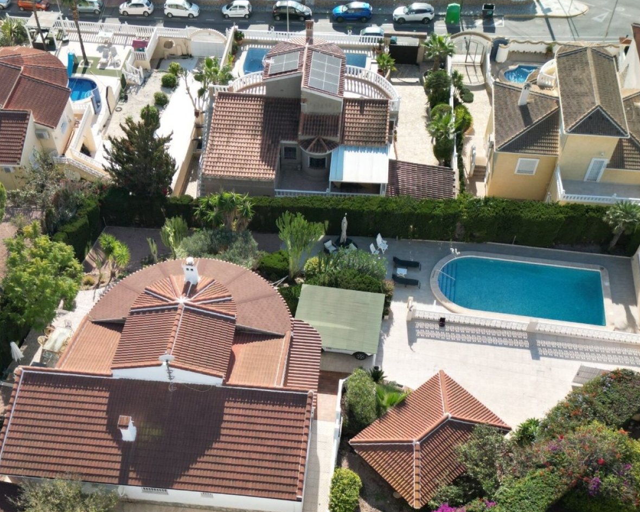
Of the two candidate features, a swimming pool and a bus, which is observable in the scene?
swimming pool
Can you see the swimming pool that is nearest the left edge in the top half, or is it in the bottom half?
top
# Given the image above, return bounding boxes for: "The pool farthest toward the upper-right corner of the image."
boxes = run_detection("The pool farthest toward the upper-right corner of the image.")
[500,62,548,81]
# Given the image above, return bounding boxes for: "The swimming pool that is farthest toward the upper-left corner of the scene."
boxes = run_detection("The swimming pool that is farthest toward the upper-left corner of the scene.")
[68,75,102,103]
